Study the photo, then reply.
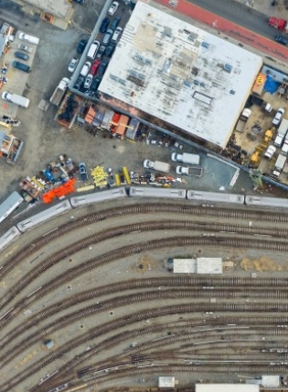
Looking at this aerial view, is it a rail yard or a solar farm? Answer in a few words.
rail yard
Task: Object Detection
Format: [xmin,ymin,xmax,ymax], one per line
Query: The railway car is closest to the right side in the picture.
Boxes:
[245,195,288,209]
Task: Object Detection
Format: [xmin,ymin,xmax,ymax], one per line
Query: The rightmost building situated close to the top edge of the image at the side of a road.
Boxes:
[97,0,265,155]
